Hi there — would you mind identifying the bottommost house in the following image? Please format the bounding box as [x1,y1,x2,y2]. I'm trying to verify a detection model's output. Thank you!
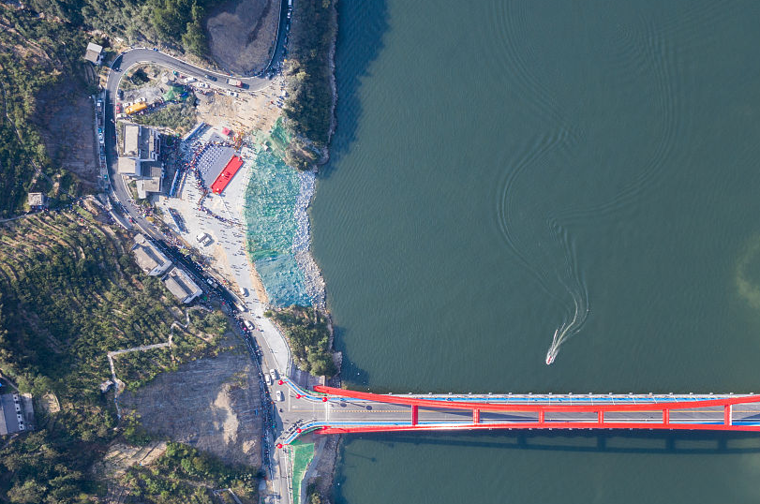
[0,392,34,436]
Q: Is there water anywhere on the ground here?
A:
Yes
